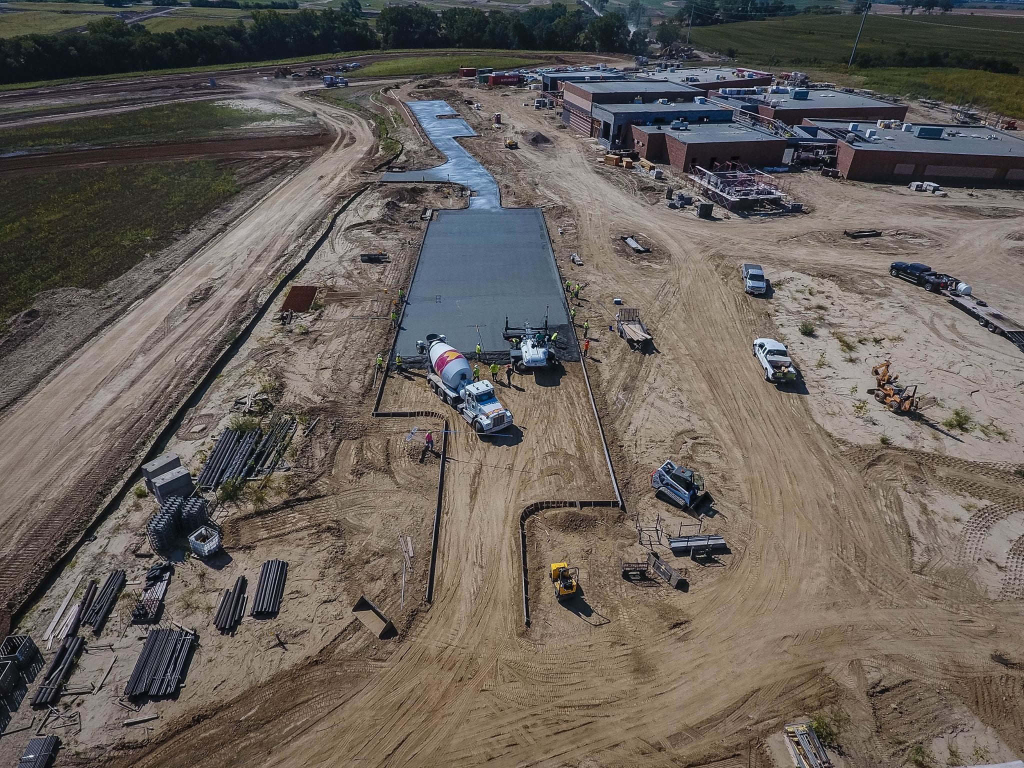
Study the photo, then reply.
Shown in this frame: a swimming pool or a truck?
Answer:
truck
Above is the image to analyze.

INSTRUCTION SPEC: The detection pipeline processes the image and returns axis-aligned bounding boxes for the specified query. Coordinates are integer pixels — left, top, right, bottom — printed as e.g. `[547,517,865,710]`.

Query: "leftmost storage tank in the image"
[188,525,222,558]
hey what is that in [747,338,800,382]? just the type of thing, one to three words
truck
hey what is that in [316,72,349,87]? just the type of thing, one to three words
vehicle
